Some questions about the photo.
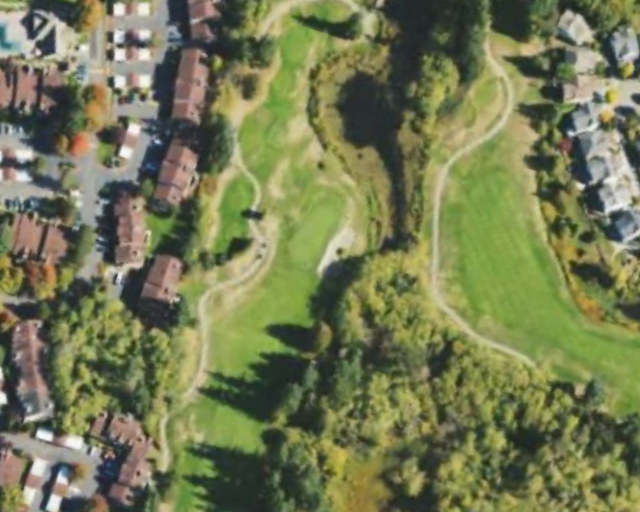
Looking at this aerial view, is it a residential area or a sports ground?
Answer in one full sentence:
What you see here is a residential area.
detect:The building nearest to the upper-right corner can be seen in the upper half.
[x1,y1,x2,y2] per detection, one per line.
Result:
[612,25,640,64]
